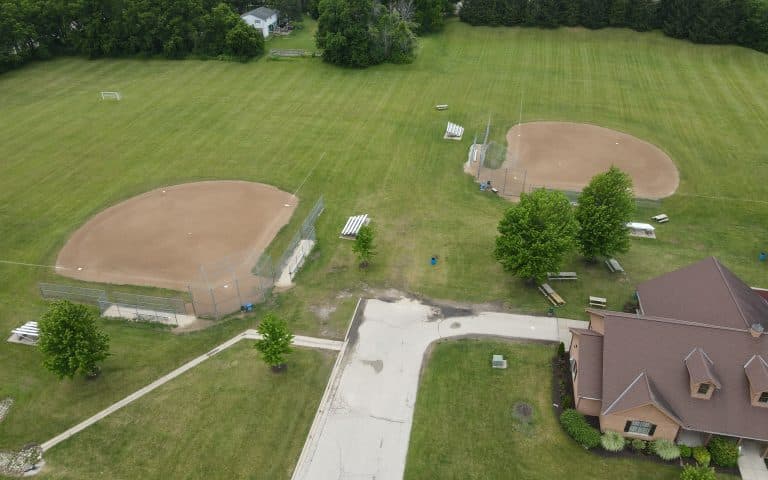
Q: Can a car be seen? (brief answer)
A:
No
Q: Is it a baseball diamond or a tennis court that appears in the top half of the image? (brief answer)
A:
baseball diamond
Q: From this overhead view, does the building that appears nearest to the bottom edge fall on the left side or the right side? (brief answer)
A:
right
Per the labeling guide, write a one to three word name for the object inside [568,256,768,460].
building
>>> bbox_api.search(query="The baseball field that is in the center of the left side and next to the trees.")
[1,153,326,329]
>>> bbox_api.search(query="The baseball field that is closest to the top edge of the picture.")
[464,88,767,203]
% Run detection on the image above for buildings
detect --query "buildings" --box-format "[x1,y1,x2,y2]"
[568,256,768,460]
[242,5,280,42]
